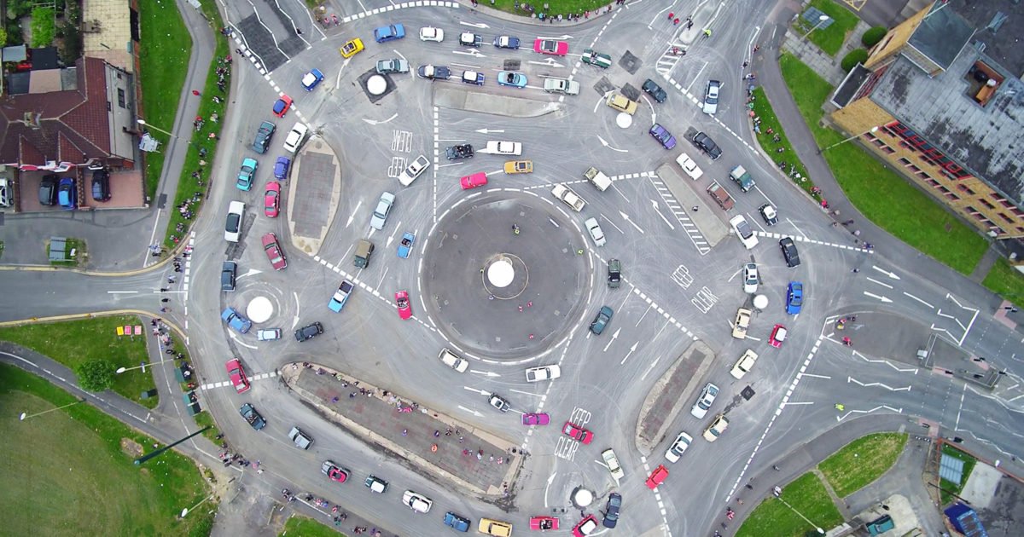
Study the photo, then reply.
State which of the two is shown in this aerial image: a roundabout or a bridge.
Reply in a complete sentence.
There is a roundabout in the scene.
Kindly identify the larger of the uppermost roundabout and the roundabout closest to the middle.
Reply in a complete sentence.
It is the roundabout closest to the middle that is larger, not the uppermost roundabout.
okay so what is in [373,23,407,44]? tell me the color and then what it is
blue car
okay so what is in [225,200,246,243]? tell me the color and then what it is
white car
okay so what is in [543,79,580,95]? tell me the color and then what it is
white car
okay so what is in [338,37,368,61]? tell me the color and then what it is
yellow car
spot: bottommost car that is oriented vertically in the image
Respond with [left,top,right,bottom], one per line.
[602,491,622,529]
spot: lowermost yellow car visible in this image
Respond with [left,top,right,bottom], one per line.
[477,517,514,537]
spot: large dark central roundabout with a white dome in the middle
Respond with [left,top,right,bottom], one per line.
[423,193,589,359]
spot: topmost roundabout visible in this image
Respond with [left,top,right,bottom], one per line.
[357,68,397,103]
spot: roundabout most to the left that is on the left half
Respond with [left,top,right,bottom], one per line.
[246,296,273,324]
